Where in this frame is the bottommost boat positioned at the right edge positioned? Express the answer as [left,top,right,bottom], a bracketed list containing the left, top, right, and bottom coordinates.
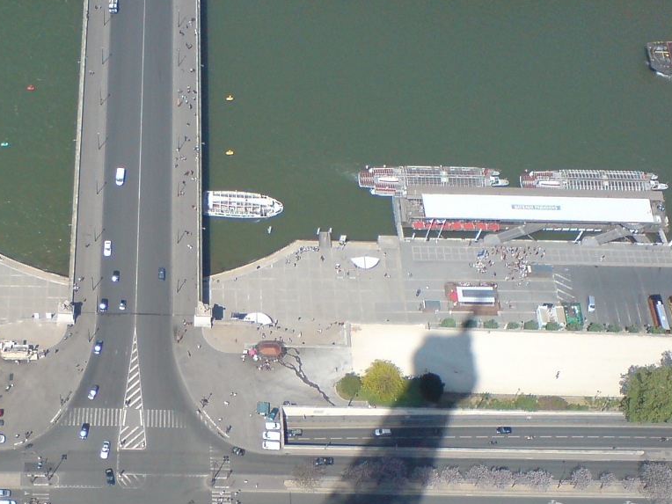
[522,167,671,197]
